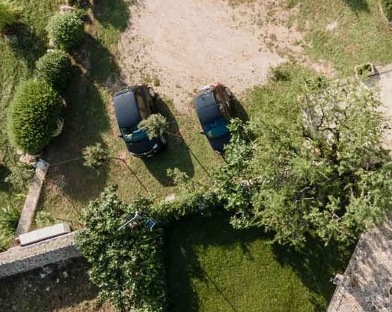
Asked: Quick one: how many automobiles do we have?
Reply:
two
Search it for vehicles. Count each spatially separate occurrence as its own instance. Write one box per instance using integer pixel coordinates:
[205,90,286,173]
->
[195,86,236,157]
[118,87,164,162]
